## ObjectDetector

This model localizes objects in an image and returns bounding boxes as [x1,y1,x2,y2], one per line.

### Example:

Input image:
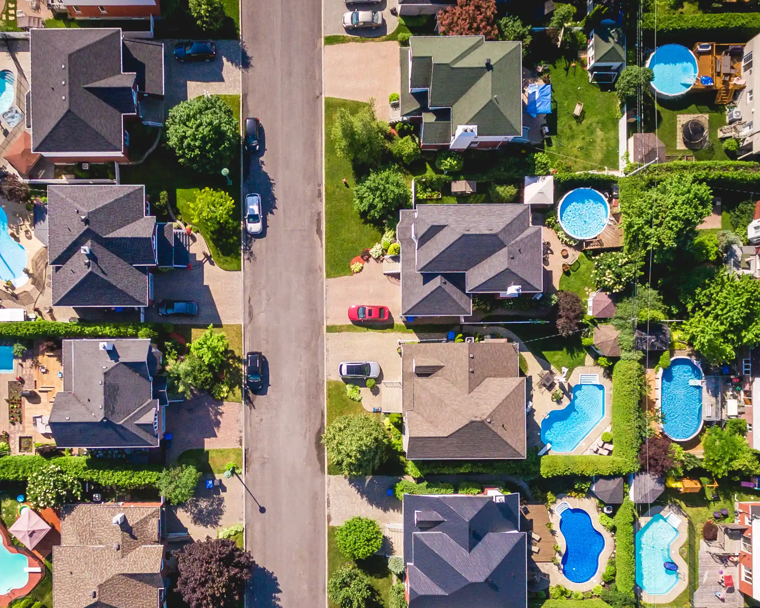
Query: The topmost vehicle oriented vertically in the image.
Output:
[243,118,261,153]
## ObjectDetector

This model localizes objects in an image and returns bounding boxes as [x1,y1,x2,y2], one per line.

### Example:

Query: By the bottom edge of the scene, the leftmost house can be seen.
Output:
[53,505,169,608]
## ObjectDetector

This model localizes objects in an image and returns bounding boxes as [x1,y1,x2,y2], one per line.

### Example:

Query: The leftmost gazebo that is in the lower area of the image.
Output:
[8,506,56,550]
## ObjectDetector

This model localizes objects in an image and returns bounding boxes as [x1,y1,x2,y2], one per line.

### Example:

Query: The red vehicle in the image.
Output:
[348,305,390,323]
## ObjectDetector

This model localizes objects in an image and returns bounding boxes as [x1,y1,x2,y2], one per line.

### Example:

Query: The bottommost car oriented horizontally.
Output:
[338,362,380,378]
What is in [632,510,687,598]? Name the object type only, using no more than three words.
swimming pool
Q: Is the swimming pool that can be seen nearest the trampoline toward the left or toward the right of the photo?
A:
right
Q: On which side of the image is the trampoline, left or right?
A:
right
